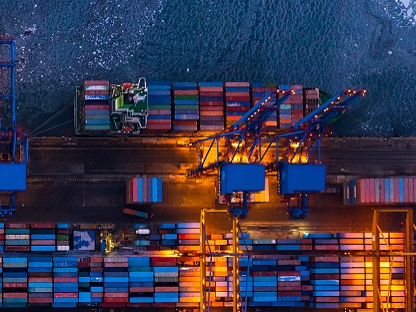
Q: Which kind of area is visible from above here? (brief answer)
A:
port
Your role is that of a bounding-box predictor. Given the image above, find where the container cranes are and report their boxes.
[178,209,251,312]
[337,209,416,312]
[241,97,369,223]
[177,97,298,223]
[0,36,29,223]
